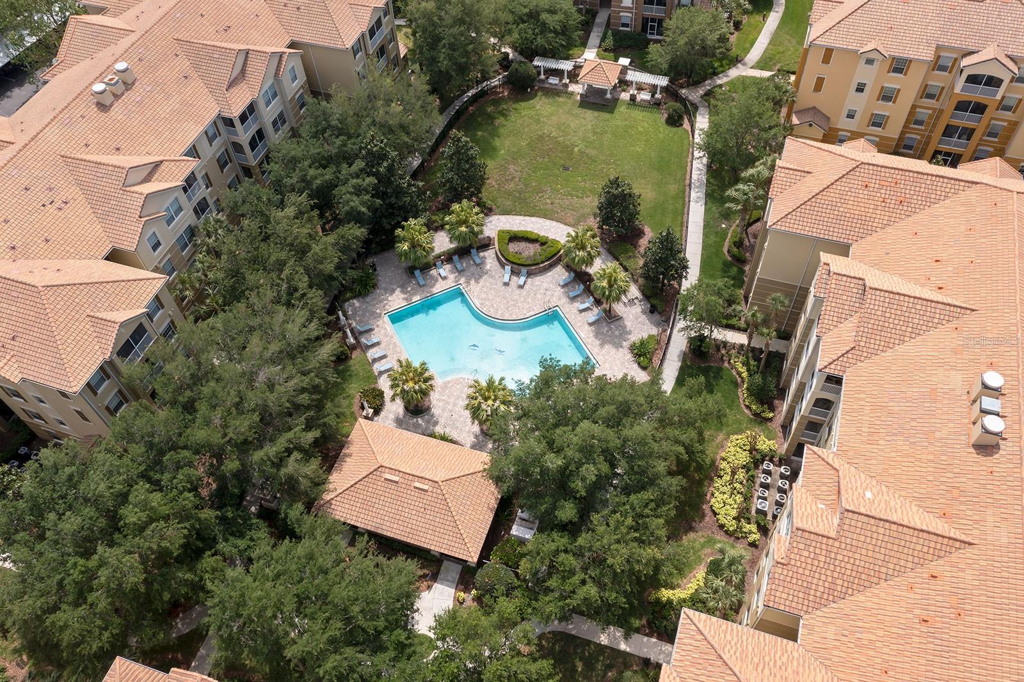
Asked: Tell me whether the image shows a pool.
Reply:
Yes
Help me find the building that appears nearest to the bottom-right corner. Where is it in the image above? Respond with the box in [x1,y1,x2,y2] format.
[656,134,1024,682]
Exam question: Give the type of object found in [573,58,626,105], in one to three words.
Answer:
gazebo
